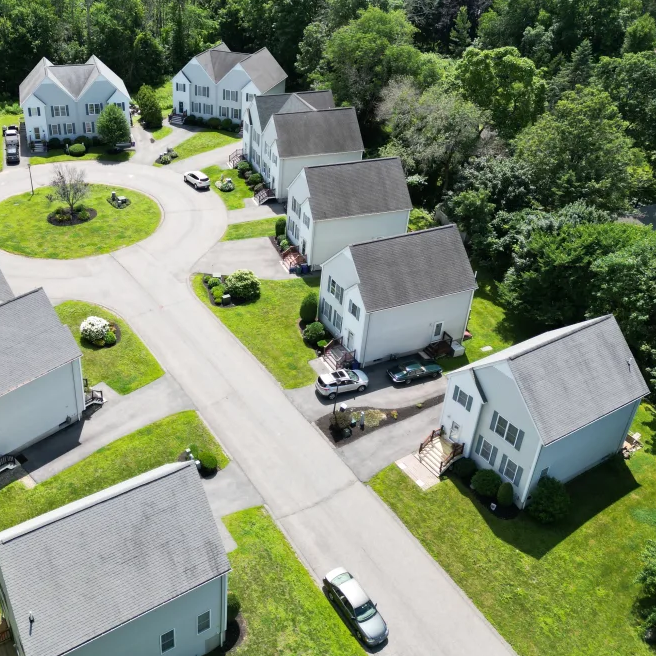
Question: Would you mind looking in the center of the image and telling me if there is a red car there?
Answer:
No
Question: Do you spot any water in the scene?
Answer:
No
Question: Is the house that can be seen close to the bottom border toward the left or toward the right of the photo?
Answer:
left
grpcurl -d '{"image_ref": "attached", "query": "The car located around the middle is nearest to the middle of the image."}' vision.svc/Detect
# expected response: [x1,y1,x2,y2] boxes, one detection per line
[313,364,371,397]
